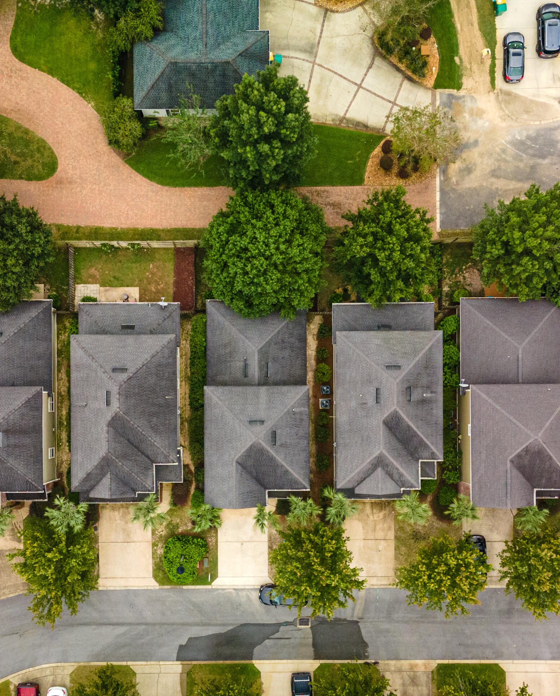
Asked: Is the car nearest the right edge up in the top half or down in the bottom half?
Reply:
top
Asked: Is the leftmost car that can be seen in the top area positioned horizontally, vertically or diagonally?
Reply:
vertically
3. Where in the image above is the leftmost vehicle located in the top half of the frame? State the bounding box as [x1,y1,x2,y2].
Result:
[501,33,528,86]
